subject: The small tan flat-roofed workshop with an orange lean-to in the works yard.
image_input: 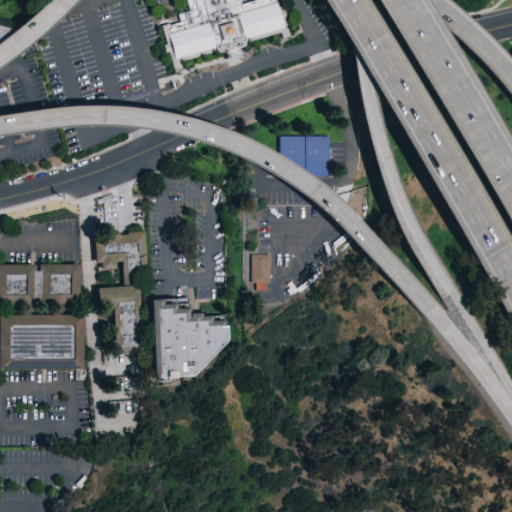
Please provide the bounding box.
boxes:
[250,253,273,292]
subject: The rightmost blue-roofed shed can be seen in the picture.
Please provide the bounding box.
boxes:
[306,136,330,176]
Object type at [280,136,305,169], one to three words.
shed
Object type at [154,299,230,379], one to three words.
building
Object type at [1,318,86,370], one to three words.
building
